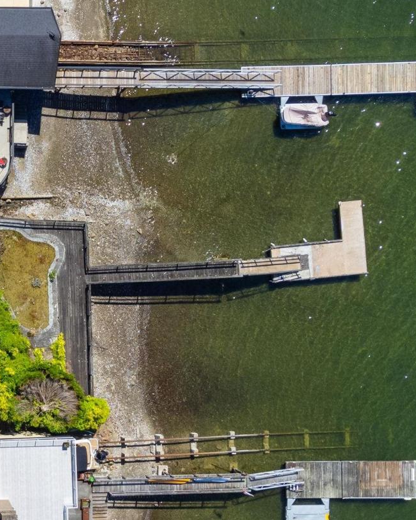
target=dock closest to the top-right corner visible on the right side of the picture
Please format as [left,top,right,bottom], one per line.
[238,61,416,103]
